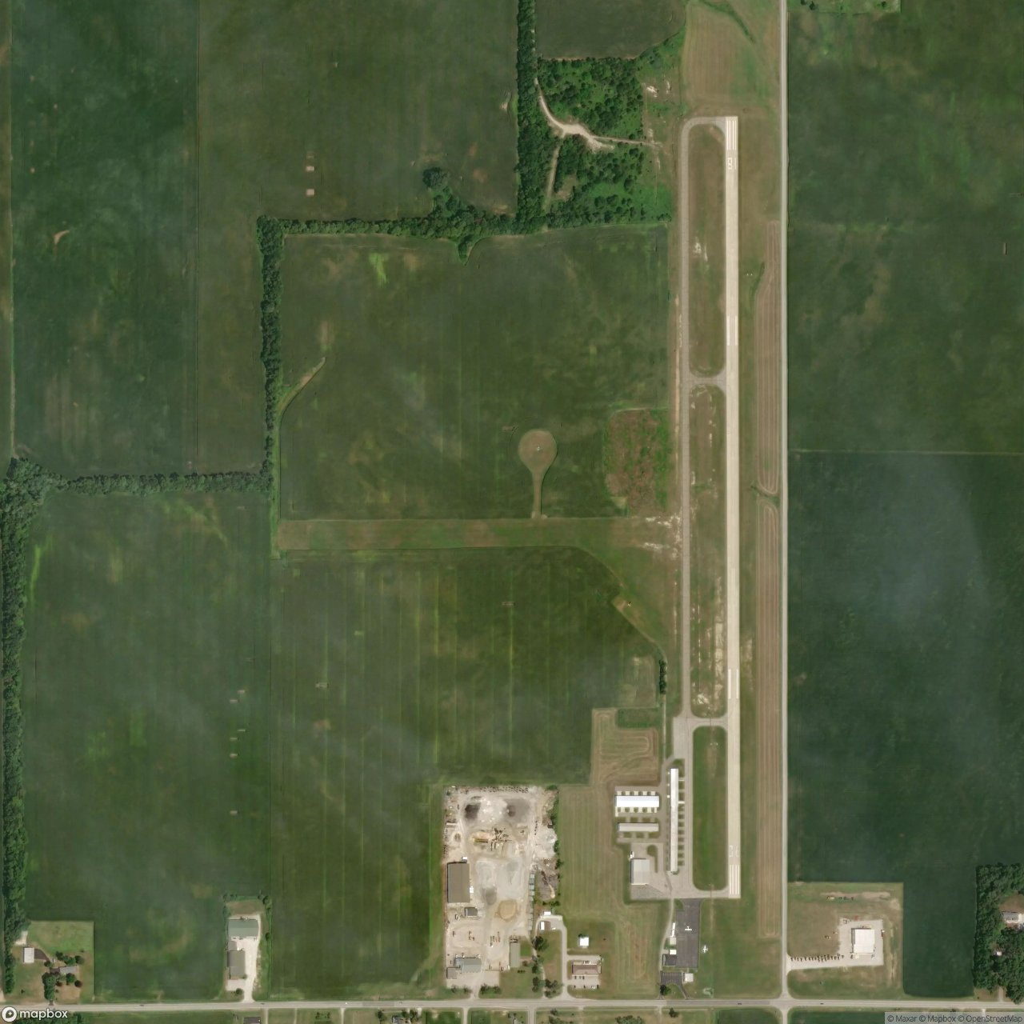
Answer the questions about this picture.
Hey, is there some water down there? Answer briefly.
No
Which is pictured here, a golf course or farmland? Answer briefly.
farmland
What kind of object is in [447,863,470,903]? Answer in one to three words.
building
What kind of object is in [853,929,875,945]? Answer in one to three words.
building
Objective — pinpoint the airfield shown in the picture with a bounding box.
[278,117,740,968]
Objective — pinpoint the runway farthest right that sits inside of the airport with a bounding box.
[726,117,740,898]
